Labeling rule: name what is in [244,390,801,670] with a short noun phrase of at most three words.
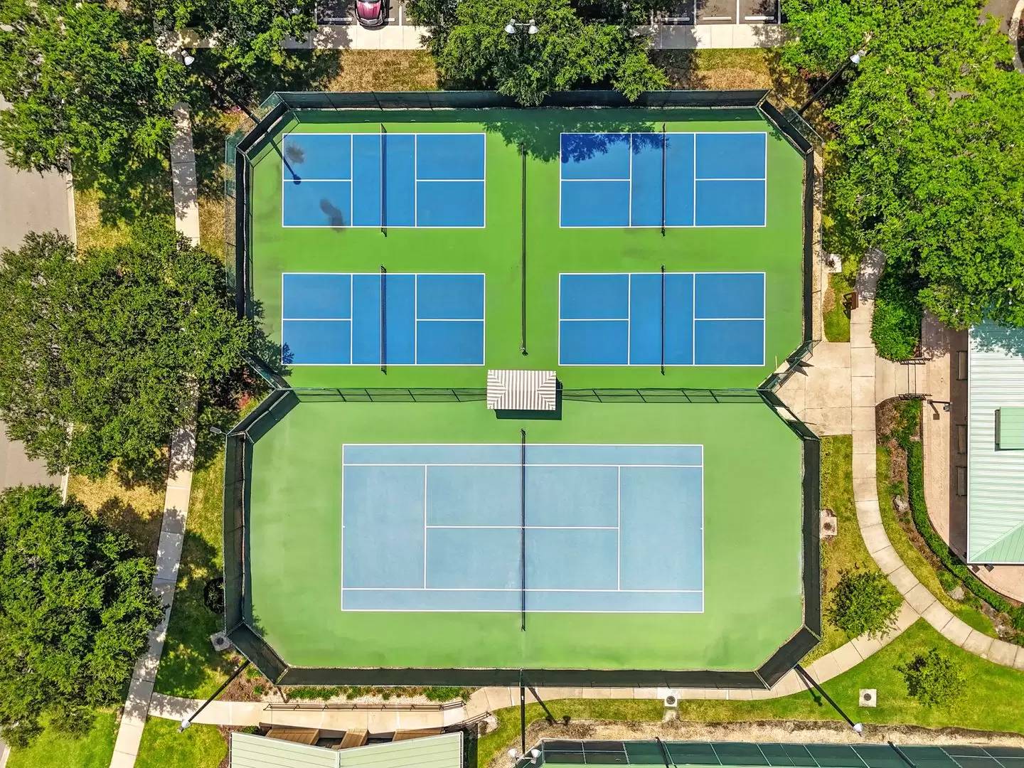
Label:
tennis court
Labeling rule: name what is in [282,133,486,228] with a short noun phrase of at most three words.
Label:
sports court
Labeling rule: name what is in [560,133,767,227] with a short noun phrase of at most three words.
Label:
sports court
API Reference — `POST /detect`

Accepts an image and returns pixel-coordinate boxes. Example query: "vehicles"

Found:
[354,0,385,28]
